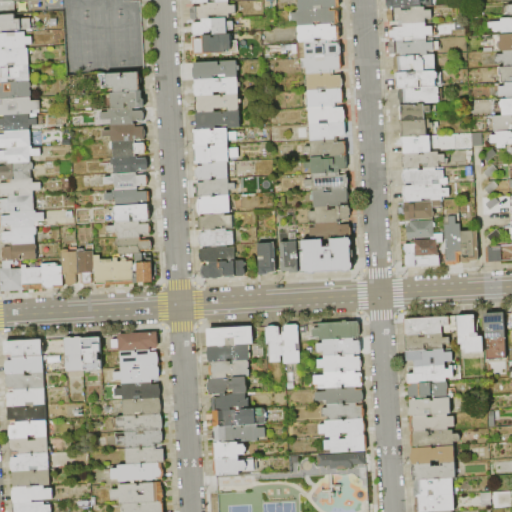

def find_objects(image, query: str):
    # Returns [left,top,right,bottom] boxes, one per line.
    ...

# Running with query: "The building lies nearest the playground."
[317,452,366,470]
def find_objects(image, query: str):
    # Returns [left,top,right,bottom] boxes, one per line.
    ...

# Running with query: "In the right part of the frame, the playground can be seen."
[312,473,368,512]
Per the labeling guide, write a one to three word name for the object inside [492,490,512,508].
shed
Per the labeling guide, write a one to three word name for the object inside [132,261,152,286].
building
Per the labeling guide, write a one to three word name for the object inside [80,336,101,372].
building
